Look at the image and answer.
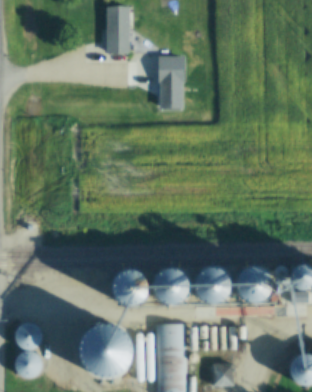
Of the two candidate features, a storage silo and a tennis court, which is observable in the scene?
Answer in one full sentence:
Of the two, only a storage silo appears.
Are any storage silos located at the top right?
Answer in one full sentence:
No, no storage silo appears at the top right.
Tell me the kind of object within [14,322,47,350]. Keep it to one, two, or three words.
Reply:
silo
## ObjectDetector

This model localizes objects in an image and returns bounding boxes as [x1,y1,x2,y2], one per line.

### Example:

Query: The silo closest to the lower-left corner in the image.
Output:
[15,351,48,379]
